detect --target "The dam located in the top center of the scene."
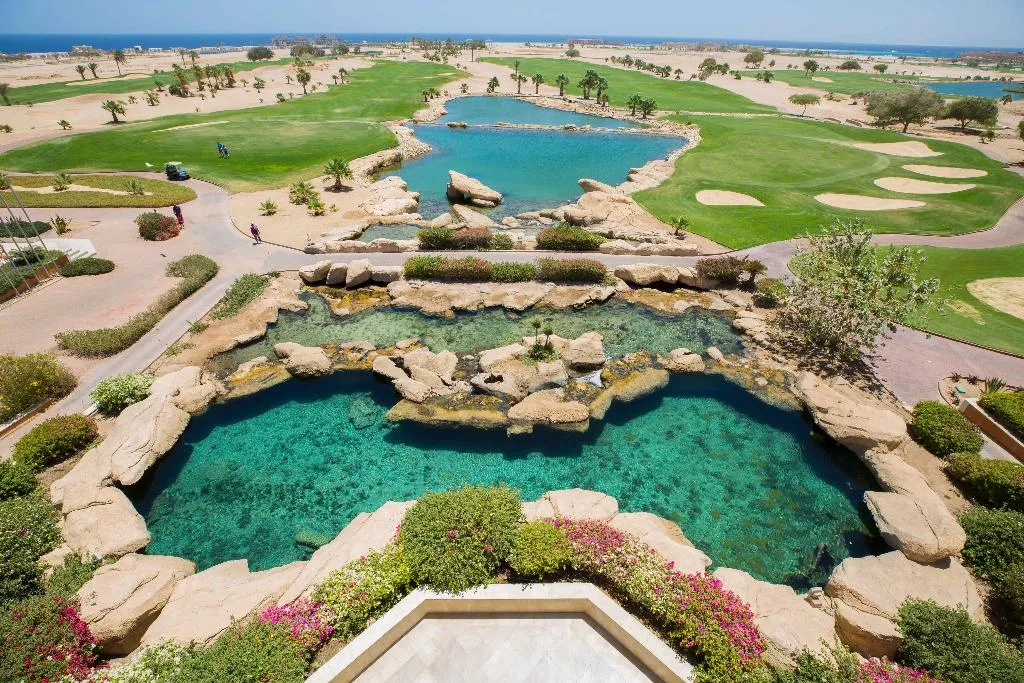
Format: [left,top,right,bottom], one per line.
[411,122,650,137]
